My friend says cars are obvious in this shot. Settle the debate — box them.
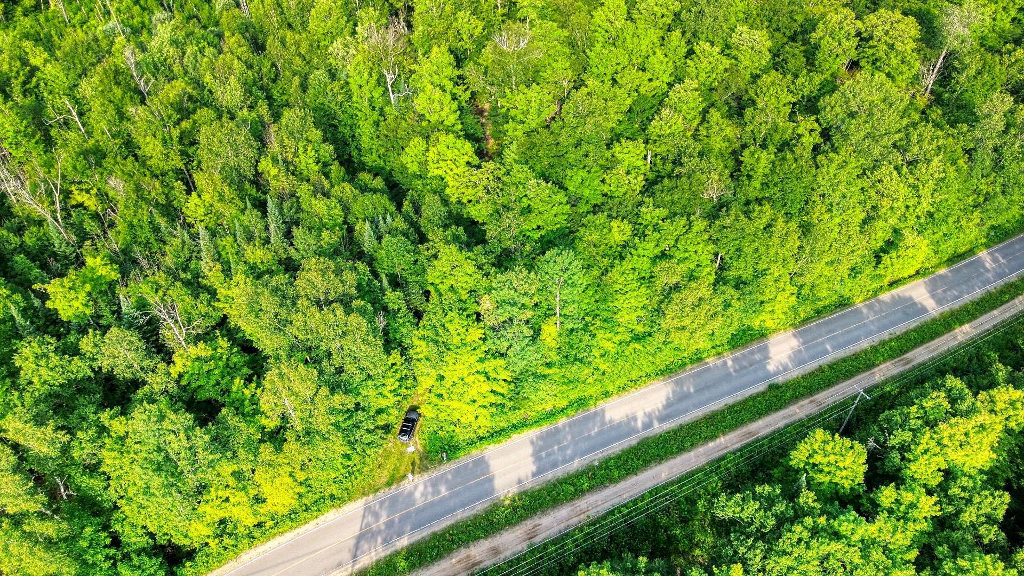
[398,410,420,441]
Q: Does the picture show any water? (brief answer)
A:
No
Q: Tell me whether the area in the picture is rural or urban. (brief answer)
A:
rural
